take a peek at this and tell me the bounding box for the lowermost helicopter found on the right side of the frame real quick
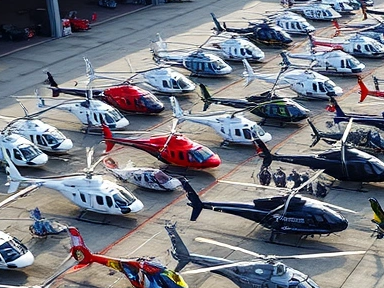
[160,232,364,288]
